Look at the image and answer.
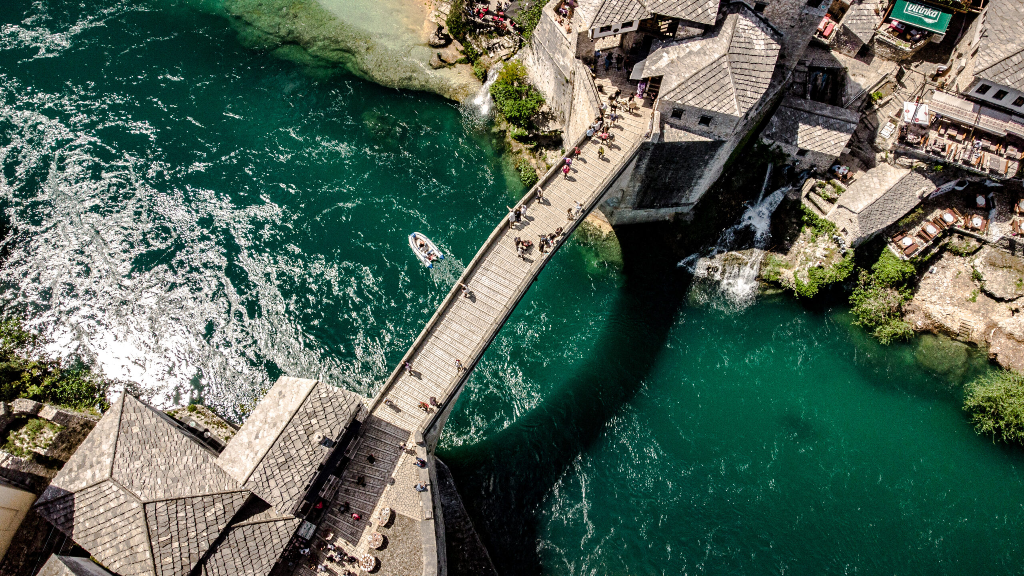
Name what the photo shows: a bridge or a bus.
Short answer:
bridge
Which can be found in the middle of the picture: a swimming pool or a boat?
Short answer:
boat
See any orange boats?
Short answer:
No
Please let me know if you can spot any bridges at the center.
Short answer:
Yes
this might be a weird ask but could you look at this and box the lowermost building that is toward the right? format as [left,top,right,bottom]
[831,162,935,244]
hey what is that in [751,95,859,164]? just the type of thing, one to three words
house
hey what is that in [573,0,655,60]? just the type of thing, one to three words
building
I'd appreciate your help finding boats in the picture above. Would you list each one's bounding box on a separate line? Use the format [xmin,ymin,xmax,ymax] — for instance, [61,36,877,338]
[410,230,446,269]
